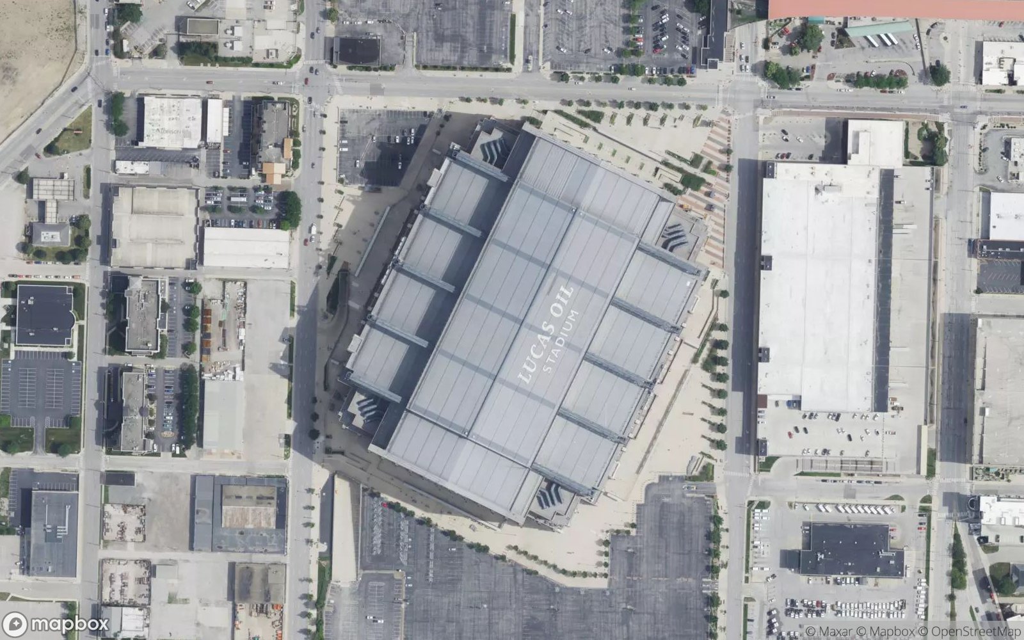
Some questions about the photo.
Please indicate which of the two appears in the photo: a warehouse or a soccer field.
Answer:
warehouse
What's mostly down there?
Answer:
paved ground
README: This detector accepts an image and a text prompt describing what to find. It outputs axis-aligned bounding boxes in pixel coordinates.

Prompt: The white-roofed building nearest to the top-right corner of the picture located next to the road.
[982,42,1024,85]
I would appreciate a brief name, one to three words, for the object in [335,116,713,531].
stadium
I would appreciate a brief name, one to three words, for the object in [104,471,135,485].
shed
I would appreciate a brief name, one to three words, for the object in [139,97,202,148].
building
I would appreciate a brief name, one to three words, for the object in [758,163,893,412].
warehouse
